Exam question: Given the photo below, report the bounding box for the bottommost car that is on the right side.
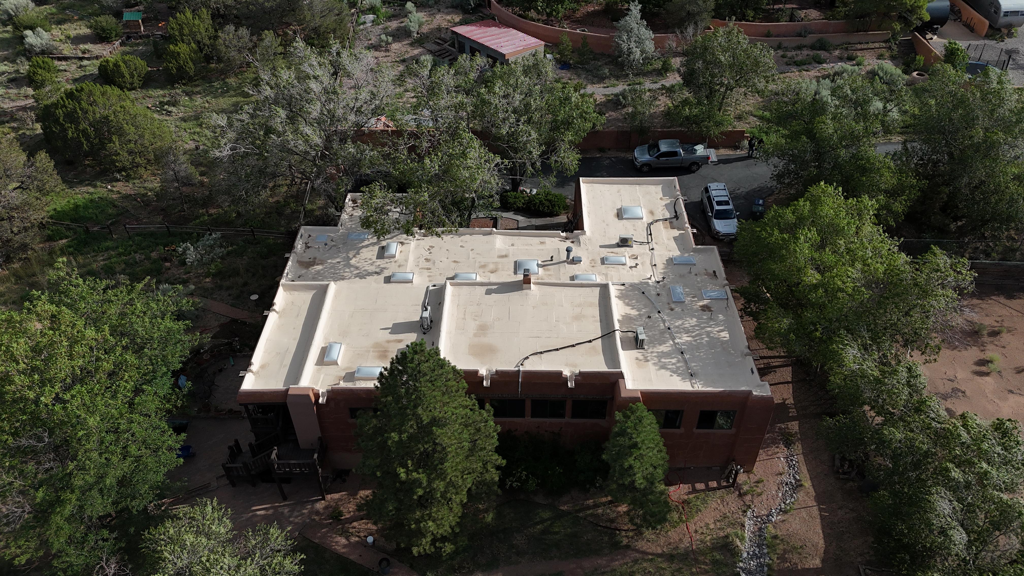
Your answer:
[698,183,740,240]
